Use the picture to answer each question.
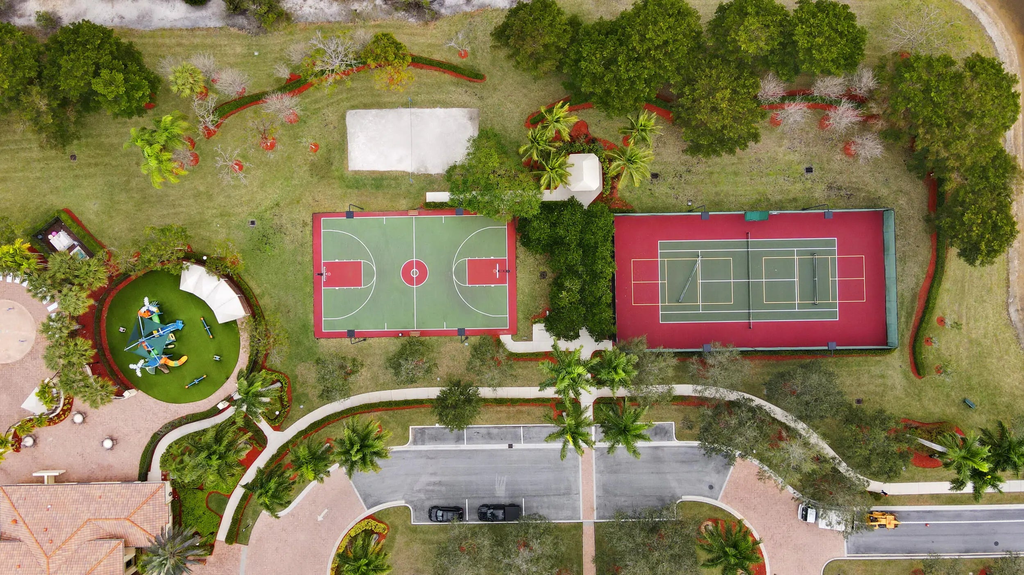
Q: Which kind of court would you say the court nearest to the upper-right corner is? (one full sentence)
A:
Looking closely, the court nearest to the upper-right corner is a tennis court.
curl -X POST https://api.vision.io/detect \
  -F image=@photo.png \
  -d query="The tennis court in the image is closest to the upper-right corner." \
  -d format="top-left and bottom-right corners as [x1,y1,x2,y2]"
[612,211,888,349]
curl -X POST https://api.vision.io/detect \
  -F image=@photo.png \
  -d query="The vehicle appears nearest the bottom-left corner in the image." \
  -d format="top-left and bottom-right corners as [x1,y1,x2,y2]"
[429,507,464,525]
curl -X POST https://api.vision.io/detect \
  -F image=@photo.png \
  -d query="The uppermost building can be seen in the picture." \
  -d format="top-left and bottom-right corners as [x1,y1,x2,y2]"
[566,153,599,192]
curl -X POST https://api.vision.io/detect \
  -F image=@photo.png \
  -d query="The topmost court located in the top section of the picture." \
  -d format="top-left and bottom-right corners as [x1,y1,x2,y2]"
[347,108,478,174]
